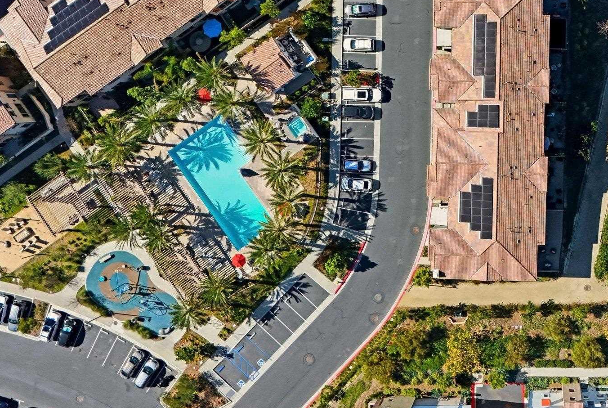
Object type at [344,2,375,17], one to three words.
car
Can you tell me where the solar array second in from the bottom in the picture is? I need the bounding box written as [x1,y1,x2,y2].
[466,104,498,128]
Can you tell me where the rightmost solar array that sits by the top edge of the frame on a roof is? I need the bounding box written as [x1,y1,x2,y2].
[473,15,496,98]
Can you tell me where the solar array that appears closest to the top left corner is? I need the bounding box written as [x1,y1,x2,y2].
[48,0,105,50]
